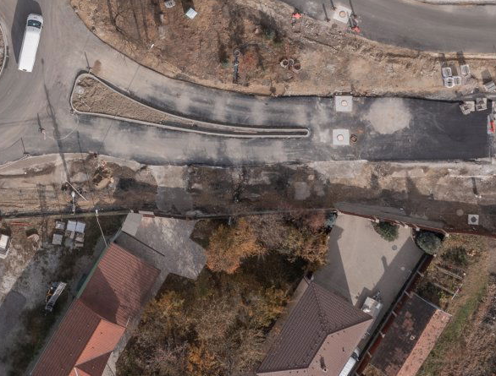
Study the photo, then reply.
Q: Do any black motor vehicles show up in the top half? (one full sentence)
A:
No, I can find no black motor vehicle in the top half.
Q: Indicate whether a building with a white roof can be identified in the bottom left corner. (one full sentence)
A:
No, looking in the bottom left corner, there is no building with a white roof.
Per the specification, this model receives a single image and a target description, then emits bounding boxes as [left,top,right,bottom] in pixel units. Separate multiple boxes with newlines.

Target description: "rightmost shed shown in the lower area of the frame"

[366,291,452,376]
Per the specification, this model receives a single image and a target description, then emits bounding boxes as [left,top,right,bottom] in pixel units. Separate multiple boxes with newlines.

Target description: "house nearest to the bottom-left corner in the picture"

[32,242,161,376]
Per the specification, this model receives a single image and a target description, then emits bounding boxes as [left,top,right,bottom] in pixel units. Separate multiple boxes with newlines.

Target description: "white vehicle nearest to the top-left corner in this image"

[17,12,45,73]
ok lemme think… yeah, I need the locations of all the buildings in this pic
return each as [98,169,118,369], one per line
[256,281,373,376]
[366,291,452,376]
[32,242,161,376]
